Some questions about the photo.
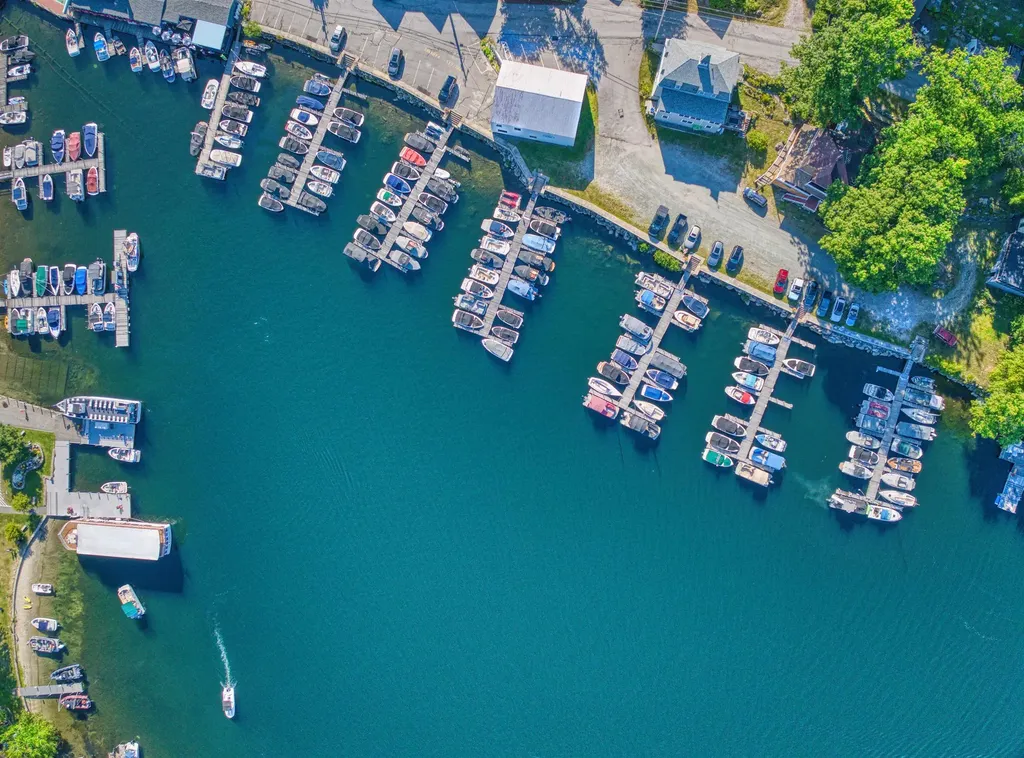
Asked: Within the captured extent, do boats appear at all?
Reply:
Yes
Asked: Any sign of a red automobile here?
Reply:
Yes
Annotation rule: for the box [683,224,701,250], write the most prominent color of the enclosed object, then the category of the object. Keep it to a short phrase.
white car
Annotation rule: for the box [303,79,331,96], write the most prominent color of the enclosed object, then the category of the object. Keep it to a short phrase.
blue boat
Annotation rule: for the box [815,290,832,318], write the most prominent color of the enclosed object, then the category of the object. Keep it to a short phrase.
blue vehicle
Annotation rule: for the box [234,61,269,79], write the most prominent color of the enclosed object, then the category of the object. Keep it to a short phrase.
white boat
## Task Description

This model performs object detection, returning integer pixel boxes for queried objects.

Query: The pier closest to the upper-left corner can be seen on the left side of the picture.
[0,53,31,116]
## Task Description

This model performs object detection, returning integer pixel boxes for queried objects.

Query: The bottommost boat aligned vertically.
[222,686,236,720]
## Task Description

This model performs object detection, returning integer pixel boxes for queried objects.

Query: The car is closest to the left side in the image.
[330,24,346,54]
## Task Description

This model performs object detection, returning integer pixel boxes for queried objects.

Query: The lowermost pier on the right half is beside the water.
[995,436,1024,513]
